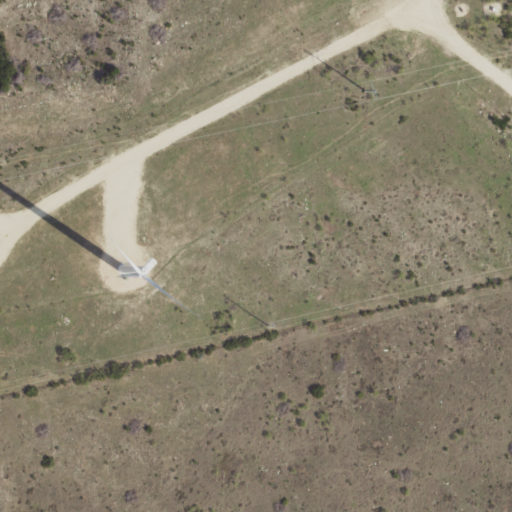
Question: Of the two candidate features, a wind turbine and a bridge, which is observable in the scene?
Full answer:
It is a wind turbine that can be seen here.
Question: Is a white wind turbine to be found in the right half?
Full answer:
No, in the right half there is no white wind turbine.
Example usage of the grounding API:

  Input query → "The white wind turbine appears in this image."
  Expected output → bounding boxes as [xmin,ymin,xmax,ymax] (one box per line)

[110,240,198,314]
